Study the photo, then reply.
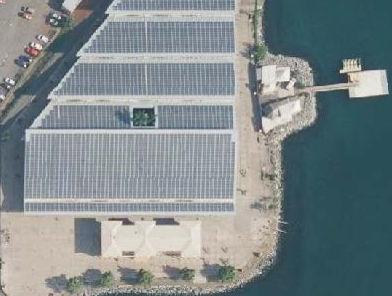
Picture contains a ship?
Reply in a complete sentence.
No, there isn't any ship down there.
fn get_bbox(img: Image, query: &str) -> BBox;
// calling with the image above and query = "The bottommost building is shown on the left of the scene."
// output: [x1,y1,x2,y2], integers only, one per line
[101,220,200,257]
